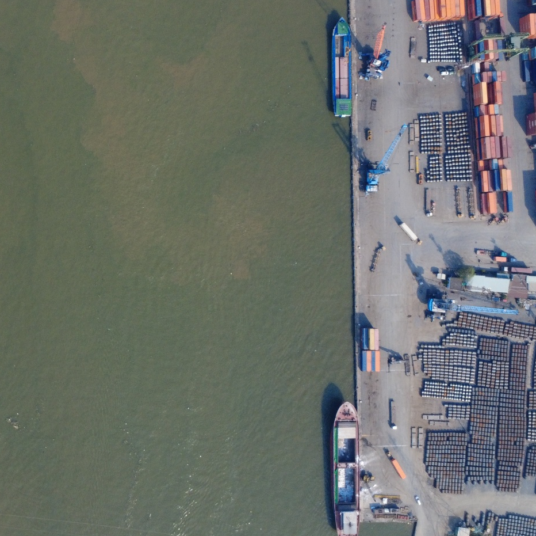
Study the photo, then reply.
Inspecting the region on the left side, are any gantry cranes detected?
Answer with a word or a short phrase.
No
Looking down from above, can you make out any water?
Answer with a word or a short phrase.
Yes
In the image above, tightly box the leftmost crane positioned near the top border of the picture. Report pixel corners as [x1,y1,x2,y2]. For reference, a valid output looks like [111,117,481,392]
[353,22,392,80]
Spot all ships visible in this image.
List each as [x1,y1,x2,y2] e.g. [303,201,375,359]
[333,400,361,536]
[331,17,354,118]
